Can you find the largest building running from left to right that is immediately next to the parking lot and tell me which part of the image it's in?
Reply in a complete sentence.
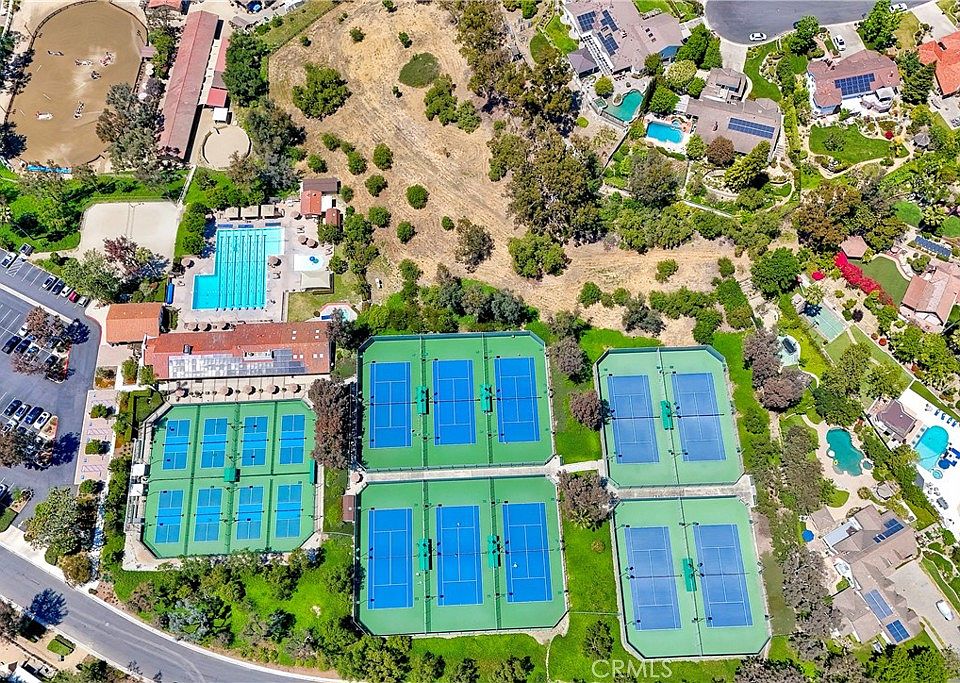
The largest building running from left to right that is immediately next to the parking lot is in the left part of the image.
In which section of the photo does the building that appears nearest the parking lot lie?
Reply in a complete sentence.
The building that appears nearest the parking lot sits in the left section of the image.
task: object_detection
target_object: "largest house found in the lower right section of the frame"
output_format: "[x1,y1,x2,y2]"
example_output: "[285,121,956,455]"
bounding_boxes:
[831,505,922,644]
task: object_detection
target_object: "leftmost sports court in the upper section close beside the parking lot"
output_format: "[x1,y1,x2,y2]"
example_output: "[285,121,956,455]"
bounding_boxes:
[79,200,180,270]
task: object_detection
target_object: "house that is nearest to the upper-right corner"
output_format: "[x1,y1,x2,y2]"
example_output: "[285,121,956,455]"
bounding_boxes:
[918,32,960,100]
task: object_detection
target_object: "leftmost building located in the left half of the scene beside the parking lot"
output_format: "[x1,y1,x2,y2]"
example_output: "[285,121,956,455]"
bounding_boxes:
[102,303,164,344]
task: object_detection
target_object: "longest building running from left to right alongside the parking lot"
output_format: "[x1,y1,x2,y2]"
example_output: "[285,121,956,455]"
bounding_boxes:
[141,322,330,380]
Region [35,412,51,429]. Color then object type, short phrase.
white car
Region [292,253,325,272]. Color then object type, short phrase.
white swimming pool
